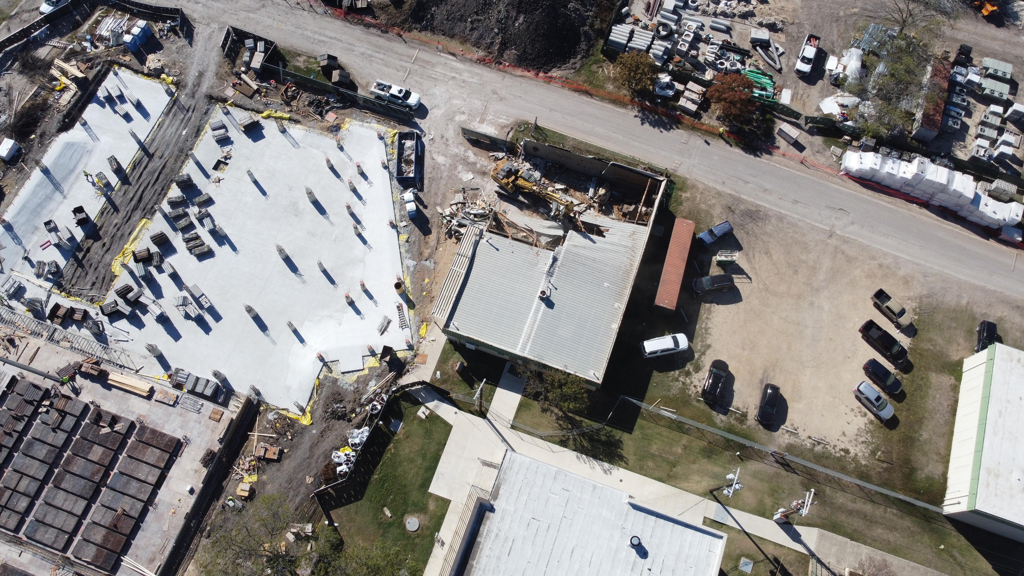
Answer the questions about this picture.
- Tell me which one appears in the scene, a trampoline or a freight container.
freight container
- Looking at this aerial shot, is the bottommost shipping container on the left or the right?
right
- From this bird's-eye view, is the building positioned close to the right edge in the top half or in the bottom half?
bottom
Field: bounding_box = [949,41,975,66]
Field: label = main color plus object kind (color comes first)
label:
black work vehicle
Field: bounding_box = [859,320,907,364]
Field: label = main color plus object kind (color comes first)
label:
black truck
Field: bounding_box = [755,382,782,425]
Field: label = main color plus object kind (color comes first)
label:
black car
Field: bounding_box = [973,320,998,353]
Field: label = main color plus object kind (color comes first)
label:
black car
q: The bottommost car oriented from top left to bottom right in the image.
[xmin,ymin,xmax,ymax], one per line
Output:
[853,382,894,420]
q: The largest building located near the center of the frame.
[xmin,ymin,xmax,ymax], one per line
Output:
[442,137,668,392]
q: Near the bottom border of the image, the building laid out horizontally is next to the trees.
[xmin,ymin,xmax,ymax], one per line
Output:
[452,449,727,576]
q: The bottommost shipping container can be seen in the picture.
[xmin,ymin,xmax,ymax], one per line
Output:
[652,217,695,317]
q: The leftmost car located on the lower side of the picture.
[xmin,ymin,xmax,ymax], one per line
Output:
[641,334,689,360]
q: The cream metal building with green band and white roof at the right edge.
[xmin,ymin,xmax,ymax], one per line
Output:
[942,342,1024,541]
